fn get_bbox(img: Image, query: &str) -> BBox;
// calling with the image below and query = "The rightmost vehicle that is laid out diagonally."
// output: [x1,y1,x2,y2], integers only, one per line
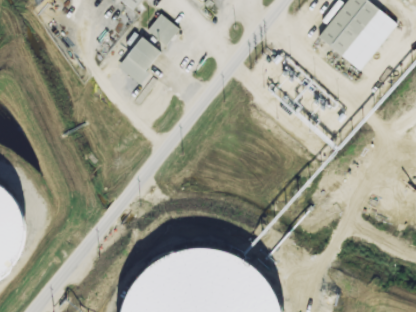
[374,65,394,89]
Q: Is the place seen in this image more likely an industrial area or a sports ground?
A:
industrial area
